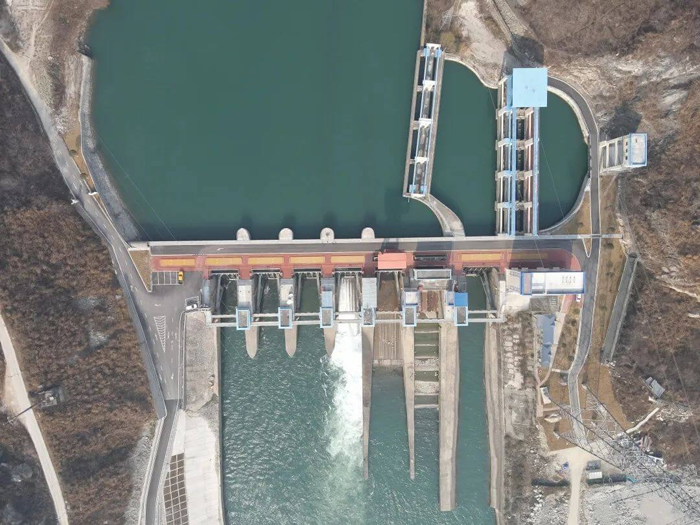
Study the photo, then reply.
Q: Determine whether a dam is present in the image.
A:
Yes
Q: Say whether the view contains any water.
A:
Yes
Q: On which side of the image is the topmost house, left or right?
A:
right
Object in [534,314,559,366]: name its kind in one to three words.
house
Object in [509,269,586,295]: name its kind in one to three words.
building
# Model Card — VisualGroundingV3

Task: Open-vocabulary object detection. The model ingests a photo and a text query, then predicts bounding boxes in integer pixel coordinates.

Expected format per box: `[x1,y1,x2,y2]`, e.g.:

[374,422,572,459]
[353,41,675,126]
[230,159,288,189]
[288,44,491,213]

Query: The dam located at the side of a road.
[128,228,622,511]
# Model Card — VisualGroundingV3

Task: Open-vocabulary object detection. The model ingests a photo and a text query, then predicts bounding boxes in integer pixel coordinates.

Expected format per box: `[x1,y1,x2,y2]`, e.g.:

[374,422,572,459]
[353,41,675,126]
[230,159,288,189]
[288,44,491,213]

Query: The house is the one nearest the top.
[497,68,547,108]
